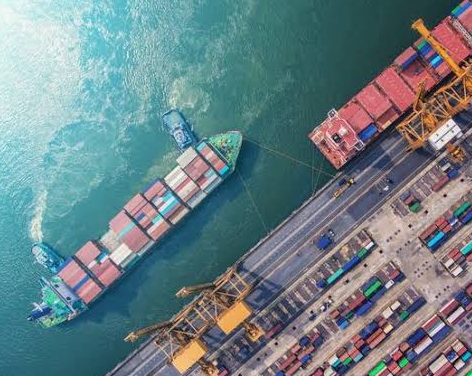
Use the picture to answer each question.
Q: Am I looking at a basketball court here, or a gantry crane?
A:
gantry crane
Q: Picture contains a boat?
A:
Yes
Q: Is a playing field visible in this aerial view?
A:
No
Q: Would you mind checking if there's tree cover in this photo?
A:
No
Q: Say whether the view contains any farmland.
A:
No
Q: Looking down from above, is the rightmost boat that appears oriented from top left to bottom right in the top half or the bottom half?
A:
top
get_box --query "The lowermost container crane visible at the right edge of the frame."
[395,79,467,162]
